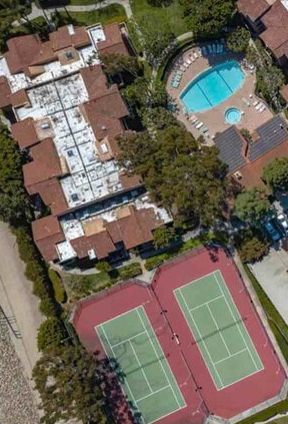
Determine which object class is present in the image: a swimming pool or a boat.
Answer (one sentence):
This aerial view contains a swimming pool.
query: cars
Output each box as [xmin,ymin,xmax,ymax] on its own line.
[263,220,282,242]
[275,214,288,234]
